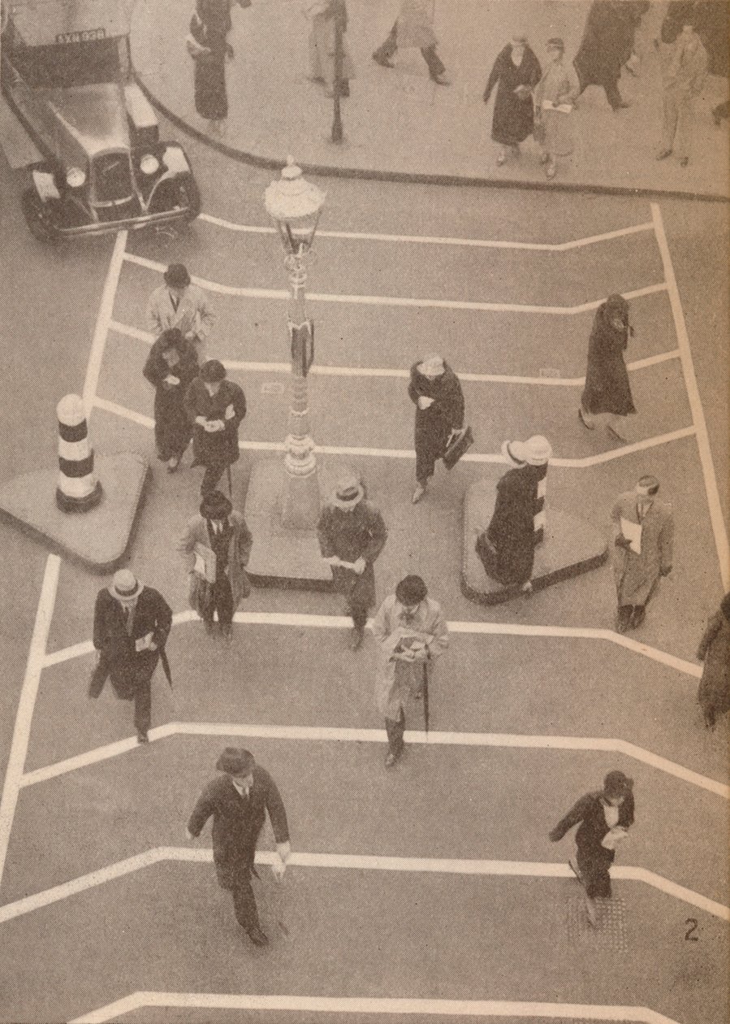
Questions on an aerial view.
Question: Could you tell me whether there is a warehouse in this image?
No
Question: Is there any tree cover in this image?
No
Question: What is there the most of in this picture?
paved ground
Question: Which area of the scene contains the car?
top left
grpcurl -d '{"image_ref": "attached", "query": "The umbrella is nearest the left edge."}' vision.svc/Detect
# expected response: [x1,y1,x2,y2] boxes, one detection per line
[154,641,173,693]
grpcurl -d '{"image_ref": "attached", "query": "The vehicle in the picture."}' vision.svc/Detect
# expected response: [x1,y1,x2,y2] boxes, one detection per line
[0,0,201,249]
